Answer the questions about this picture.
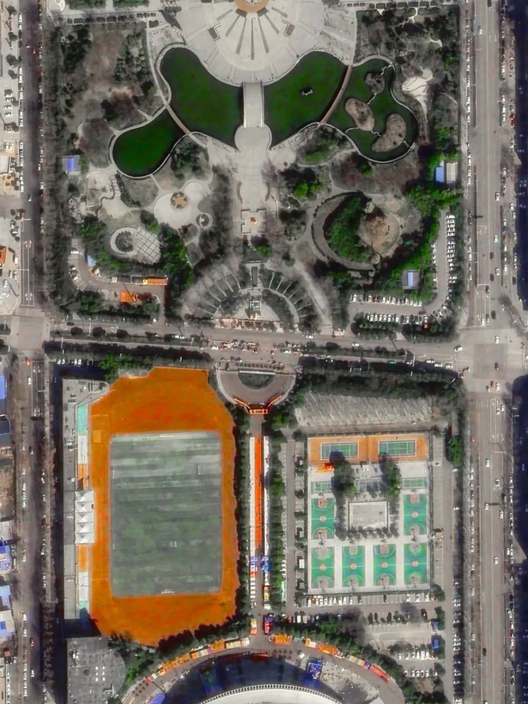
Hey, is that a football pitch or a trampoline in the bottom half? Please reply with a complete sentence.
It is a football pitch that can be seen in the bottom half.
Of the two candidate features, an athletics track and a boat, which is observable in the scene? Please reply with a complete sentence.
The image shows an athletics track.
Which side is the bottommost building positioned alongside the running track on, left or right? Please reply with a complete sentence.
The bottommost building positioned alongside the running track is on the left side of the image.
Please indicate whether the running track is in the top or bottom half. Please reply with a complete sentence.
The running track is in the bottom half of the image.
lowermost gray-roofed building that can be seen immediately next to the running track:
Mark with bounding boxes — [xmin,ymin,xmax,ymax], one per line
[66,638,125,704]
